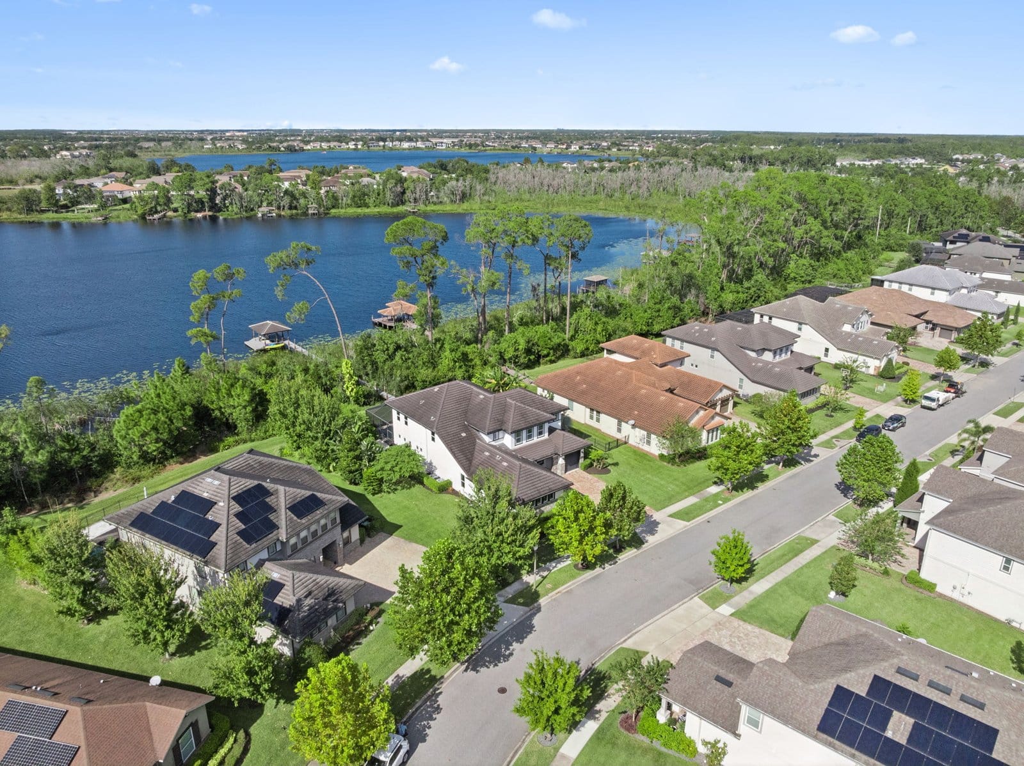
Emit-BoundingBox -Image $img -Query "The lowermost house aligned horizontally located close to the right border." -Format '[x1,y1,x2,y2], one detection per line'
[658,599,1024,766]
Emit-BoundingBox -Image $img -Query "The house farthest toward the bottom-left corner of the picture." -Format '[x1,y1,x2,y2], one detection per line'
[0,652,215,766]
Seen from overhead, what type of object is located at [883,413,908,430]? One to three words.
car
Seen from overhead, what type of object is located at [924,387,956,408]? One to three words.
truck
